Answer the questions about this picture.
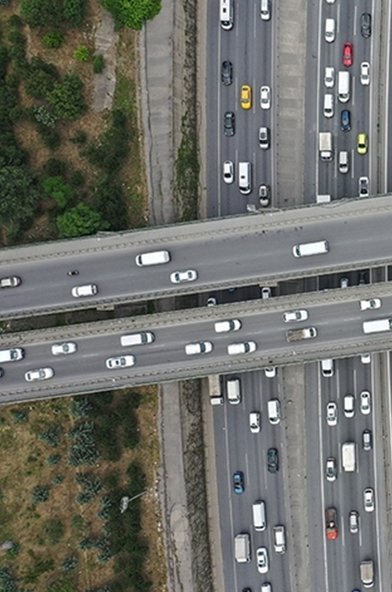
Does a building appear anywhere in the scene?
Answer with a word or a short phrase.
No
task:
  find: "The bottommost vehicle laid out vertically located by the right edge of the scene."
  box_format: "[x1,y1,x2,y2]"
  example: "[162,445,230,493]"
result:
[359,557,374,589]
